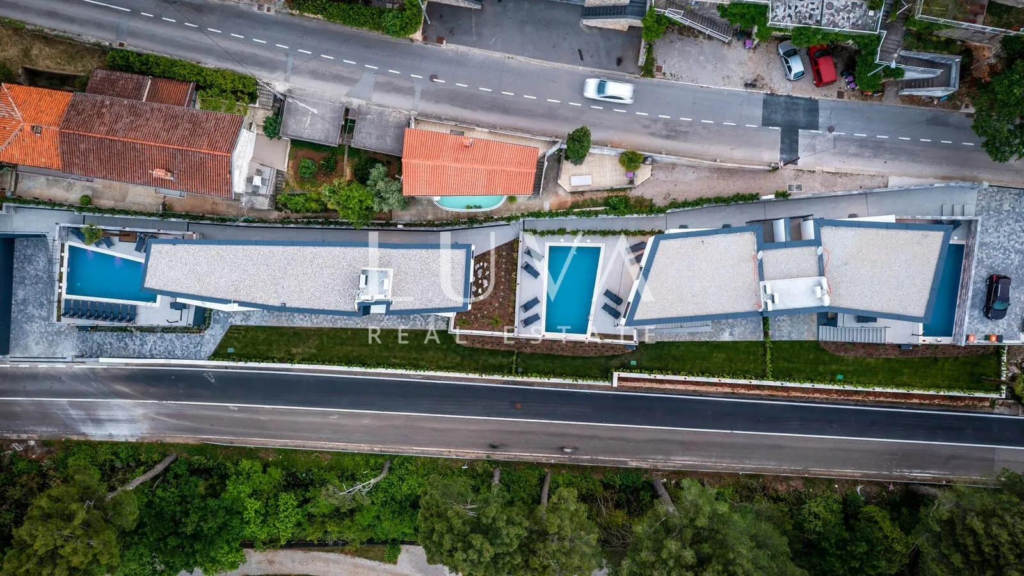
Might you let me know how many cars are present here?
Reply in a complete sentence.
Looking from above, you can make out 4 cars.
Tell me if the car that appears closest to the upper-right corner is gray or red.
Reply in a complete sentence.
From above, the car that appears closest to the upper-right corner appears red.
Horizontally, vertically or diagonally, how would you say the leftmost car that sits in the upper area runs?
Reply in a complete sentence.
From this overhead view, the leftmost car that sits in the upper area appears to run horizontally.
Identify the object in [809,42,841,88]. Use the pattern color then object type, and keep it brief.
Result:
red car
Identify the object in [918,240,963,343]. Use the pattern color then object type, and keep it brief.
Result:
blue swimming pool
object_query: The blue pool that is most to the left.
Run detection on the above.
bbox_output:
[64,241,165,307]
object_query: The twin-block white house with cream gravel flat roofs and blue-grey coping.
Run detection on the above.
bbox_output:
[621,214,953,326]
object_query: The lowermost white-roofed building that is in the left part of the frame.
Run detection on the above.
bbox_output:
[141,239,474,316]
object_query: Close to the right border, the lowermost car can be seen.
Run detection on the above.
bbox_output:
[985,275,1018,322]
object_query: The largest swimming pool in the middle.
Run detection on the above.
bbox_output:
[542,243,605,338]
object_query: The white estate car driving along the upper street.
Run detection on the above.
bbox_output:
[584,75,636,103]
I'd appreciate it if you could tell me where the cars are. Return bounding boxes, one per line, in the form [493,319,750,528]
[584,75,636,103]
[985,275,1018,322]
[778,40,811,83]
[809,42,841,88]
